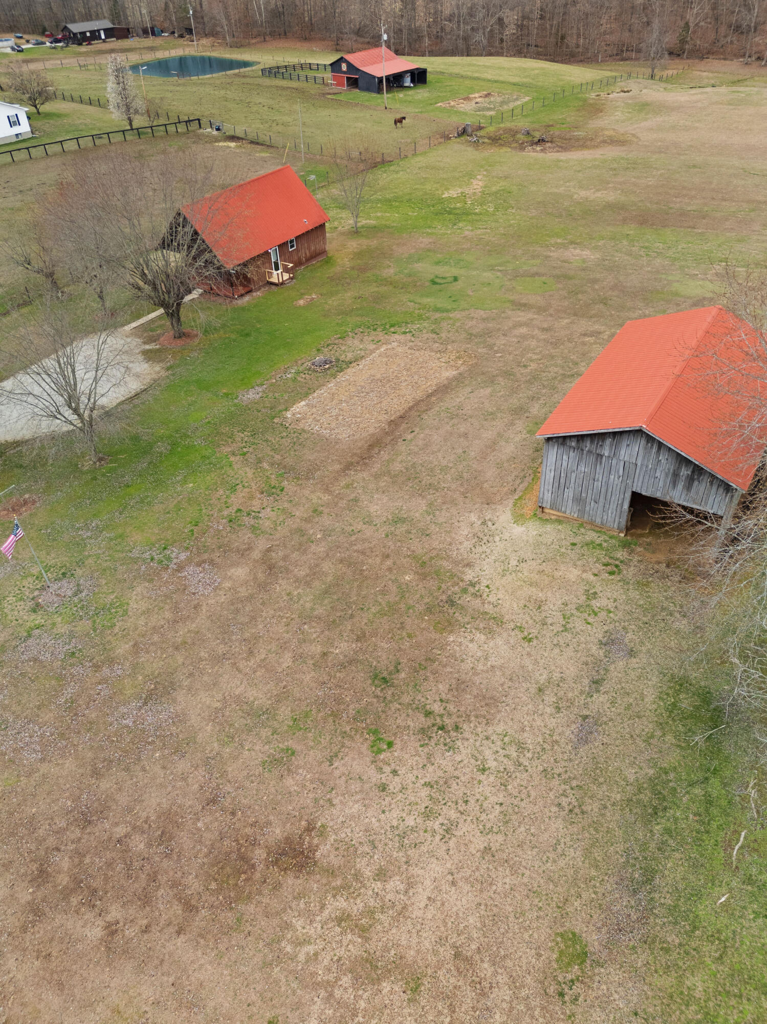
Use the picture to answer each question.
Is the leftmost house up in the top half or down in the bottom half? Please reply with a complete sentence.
The leftmost house is in the top half of the image.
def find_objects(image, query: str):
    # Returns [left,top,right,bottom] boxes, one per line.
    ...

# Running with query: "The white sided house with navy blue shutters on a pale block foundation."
[0,98,40,144]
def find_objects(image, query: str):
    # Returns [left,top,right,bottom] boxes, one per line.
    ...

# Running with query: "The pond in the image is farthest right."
[132,55,256,77]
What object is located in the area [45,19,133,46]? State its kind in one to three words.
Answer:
building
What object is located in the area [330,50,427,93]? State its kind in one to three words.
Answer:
barn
